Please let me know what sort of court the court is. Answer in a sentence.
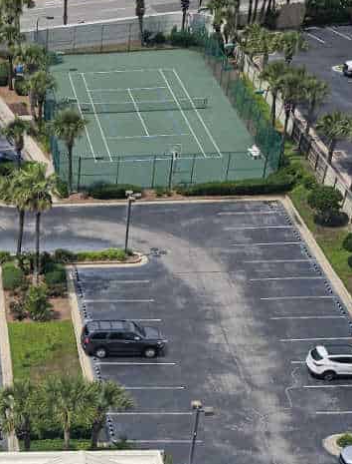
From above, the court can be identified as a tennis court.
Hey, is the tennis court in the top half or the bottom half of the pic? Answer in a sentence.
The tennis court is in the top half of the image.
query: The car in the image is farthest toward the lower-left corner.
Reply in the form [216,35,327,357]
[82,320,163,358]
